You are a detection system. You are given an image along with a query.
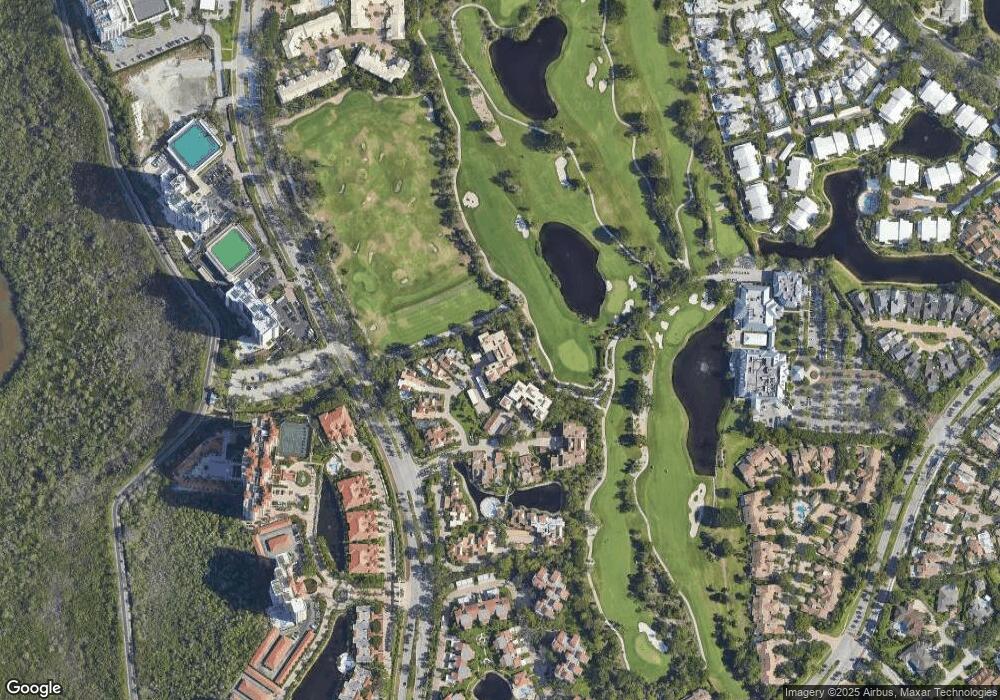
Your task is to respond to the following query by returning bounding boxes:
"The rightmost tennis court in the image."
[278,422,309,458]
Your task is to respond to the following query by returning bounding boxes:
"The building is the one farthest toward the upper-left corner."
[84,0,130,44]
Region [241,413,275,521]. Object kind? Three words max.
building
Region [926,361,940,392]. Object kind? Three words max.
house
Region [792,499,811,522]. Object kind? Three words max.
swimming pool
